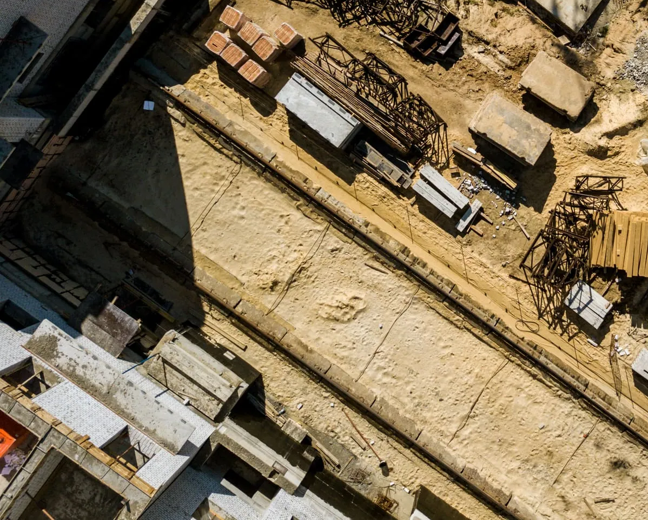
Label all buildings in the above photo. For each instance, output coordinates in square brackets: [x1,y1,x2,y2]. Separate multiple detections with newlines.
[0,0,139,227]
[0,226,399,520]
